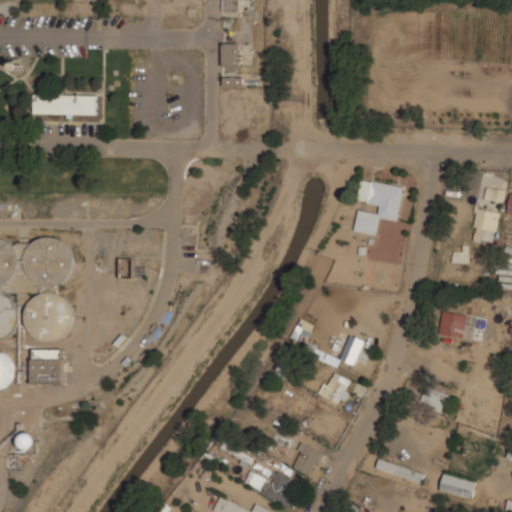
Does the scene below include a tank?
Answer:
Yes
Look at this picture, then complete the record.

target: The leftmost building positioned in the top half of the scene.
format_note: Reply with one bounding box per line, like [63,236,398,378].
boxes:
[32,95,98,121]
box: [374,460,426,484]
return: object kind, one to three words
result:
house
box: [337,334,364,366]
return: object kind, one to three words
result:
shed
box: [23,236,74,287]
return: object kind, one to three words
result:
storage tank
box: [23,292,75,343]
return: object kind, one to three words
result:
storage tank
